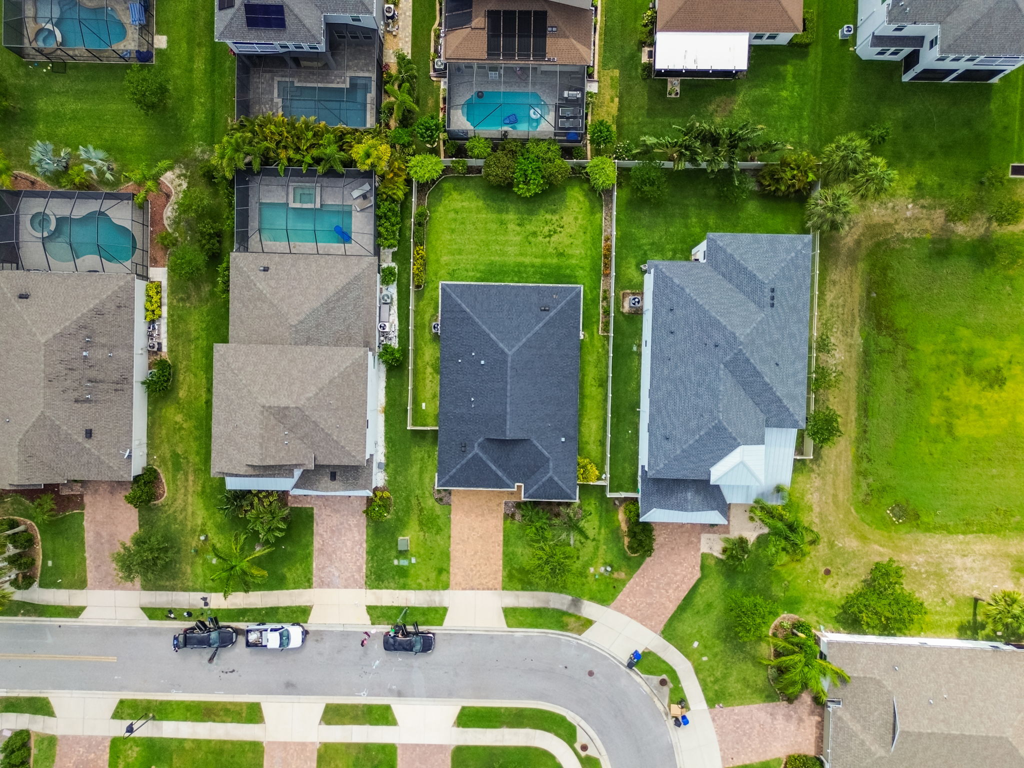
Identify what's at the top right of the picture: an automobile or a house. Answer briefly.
house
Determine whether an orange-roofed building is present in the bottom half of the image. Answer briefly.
No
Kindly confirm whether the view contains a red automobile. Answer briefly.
No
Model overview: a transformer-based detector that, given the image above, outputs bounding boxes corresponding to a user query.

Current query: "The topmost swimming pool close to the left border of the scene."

[30,0,127,51]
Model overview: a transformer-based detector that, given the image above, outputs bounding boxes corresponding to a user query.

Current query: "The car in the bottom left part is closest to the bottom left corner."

[171,613,238,662]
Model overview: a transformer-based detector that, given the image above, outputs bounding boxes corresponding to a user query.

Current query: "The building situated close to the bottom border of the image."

[818,633,1024,768]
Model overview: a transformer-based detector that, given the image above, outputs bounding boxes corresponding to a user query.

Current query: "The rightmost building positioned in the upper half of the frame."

[857,0,1024,81]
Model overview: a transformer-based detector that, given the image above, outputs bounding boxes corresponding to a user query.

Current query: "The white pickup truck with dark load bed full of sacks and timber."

[244,623,309,651]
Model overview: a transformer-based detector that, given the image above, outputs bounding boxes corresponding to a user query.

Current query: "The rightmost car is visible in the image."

[384,620,436,654]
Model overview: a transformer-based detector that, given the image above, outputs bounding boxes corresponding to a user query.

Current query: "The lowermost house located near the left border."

[0,270,148,490]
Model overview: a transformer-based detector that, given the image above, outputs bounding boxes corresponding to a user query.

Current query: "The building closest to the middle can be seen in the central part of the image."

[435,281,584,502]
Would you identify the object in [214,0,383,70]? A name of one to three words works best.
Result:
house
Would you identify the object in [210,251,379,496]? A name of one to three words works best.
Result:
house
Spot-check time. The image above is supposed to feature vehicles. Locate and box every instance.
[384,620,436,654]
[171,613,238,662]
[244,623,309,651]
